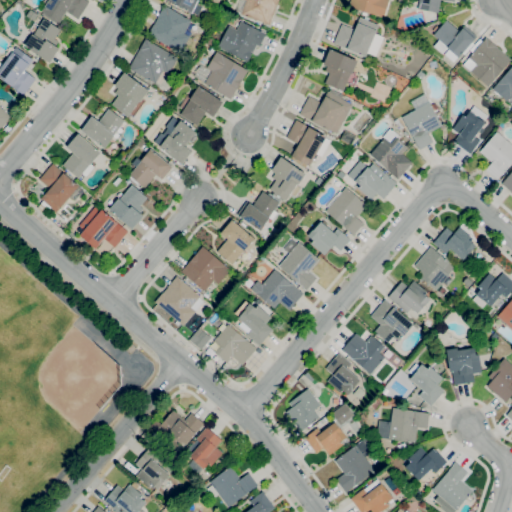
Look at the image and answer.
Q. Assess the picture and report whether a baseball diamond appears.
Yes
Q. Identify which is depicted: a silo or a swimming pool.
swimming pool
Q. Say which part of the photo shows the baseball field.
bottom left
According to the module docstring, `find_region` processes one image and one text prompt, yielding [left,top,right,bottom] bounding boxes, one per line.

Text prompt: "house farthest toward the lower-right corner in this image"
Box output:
[433,463,475,512]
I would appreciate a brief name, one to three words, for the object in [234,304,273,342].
house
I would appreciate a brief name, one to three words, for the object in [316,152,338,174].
swimming pool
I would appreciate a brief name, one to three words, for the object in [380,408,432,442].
house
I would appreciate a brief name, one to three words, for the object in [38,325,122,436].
baseball field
